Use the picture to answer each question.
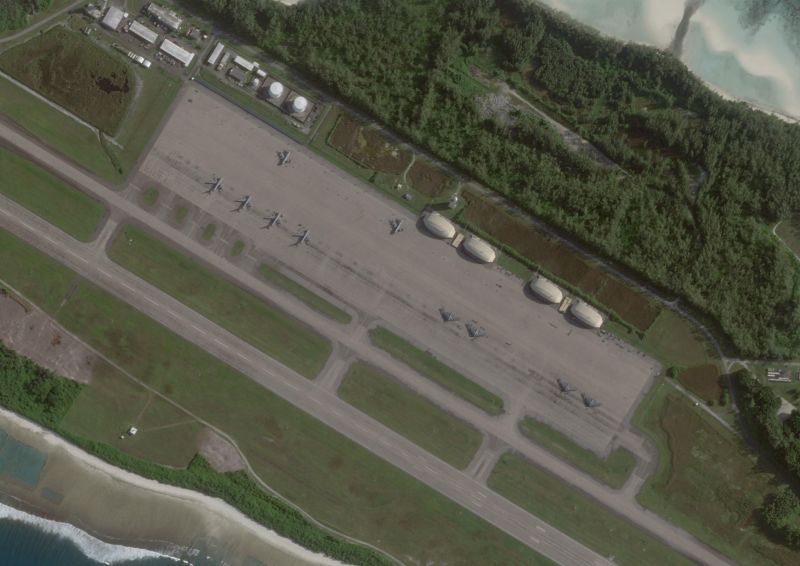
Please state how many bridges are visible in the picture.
0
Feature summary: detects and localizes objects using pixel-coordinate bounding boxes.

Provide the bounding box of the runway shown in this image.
[0,193,618,566]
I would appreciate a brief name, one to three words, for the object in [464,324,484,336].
airplane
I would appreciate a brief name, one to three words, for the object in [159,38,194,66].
building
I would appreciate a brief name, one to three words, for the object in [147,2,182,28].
building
